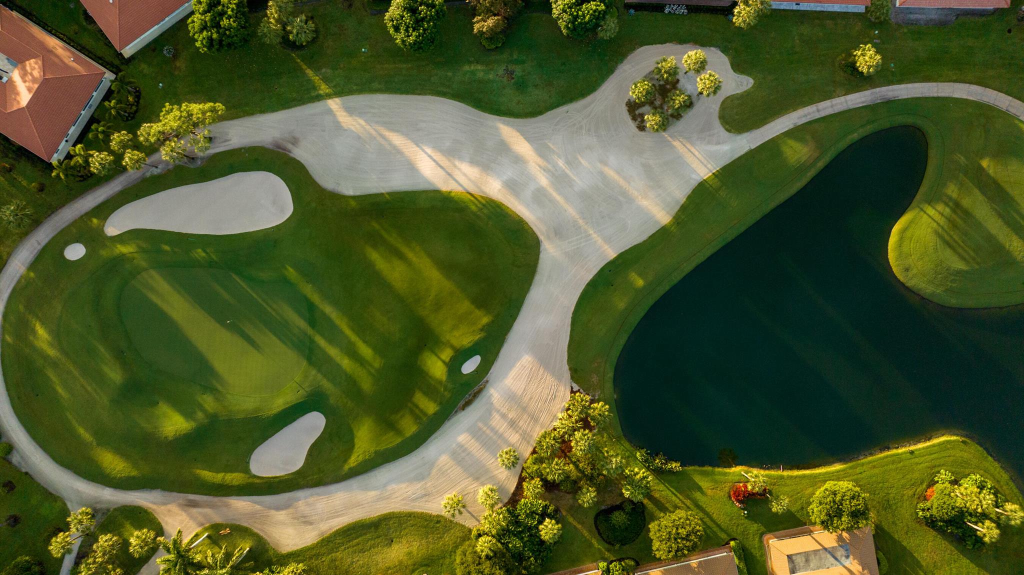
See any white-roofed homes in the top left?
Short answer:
No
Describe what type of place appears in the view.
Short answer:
golf course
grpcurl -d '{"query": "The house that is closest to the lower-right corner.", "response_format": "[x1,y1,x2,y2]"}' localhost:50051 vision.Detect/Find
[765,522,879,575]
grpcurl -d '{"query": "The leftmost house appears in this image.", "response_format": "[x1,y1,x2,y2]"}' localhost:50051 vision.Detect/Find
[0,7,112,162]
